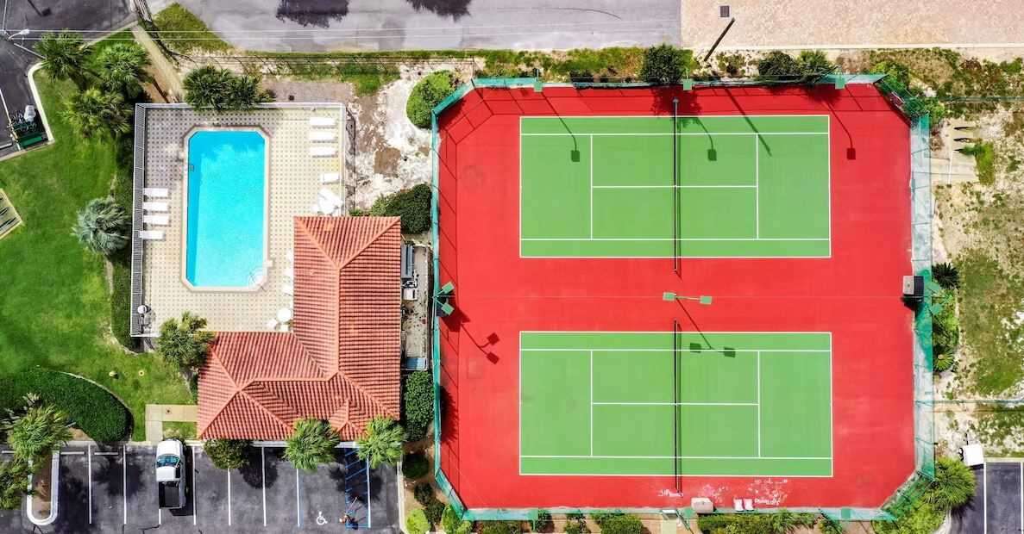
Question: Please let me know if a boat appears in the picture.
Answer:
No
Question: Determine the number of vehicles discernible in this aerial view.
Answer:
2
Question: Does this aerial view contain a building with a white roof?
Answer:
No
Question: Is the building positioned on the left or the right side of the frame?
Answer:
left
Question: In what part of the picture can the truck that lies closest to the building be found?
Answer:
bottom left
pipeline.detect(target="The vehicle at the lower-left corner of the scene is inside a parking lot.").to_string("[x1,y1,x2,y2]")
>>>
[150,439,189,511]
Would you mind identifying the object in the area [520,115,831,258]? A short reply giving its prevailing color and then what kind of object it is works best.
green tennis court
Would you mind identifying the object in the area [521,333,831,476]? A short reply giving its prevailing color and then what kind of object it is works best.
green tennis court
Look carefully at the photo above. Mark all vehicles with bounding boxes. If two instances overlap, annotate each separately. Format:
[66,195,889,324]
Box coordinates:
[150,439,189,511]
[952,435,985,467]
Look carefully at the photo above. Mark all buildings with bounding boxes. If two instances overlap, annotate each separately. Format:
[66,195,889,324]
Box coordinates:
[195,215,402,446]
